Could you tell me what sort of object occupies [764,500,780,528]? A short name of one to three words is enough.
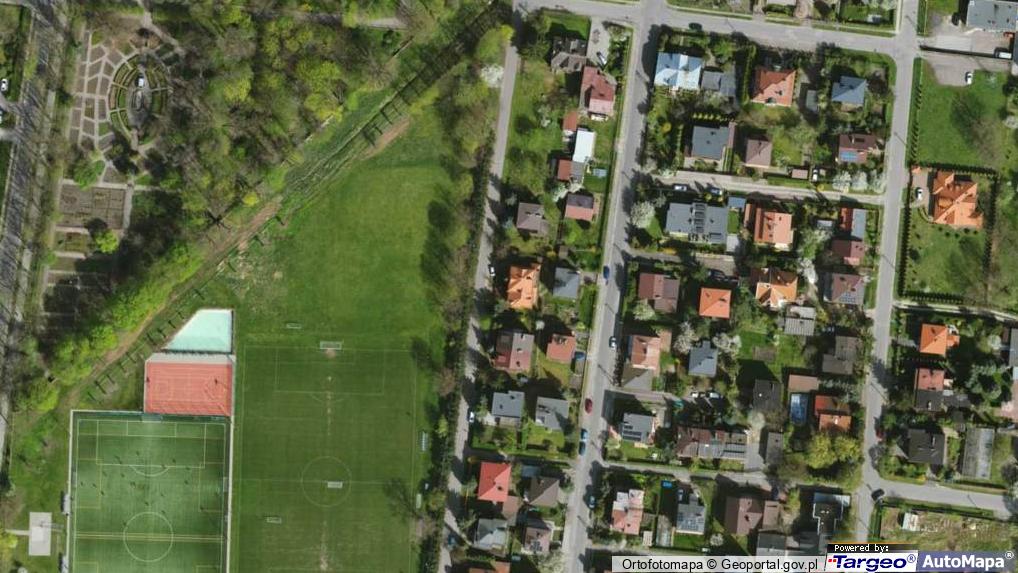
house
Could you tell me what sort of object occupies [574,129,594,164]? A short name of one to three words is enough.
building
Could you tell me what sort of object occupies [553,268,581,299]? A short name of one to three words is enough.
house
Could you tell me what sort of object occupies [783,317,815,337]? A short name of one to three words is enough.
shed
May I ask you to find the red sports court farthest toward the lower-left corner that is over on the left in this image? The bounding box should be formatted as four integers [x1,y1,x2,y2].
[144,360,231,413]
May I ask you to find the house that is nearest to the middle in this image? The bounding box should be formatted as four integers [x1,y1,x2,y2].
[507,262,541,310]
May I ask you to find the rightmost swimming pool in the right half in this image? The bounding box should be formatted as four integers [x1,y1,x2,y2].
[790,393,807,424]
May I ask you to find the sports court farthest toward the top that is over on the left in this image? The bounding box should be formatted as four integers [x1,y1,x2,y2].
[163,308,233,351]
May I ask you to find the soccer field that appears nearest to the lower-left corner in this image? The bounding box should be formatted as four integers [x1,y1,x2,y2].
[67,360,235,573]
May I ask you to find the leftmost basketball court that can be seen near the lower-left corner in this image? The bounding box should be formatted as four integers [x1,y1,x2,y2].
[29,512,52,556]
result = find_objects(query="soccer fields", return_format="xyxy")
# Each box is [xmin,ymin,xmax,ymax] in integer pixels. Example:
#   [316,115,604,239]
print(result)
[67,360,235,573]
[232,340,424,573]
